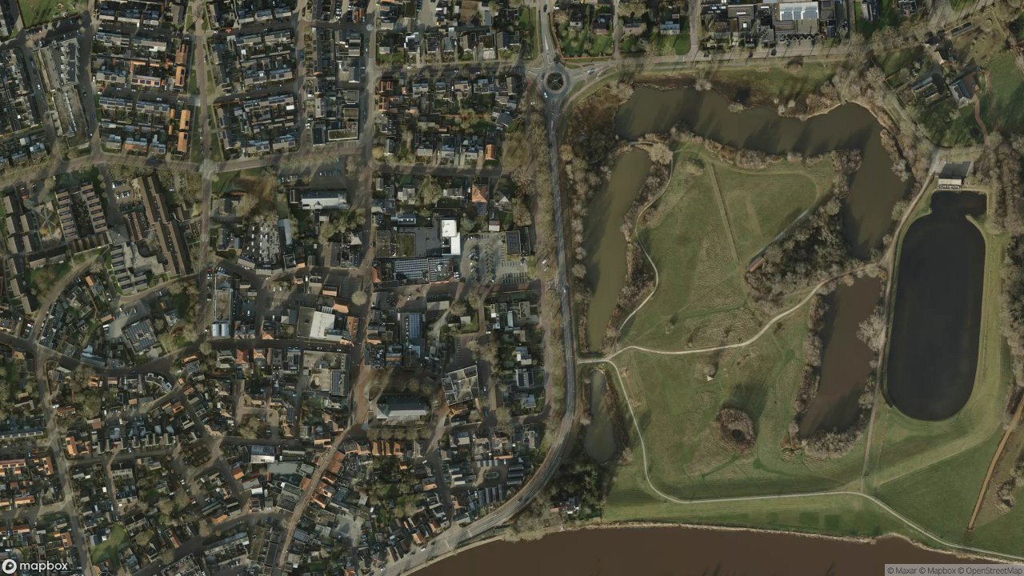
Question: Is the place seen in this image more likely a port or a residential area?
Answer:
residential area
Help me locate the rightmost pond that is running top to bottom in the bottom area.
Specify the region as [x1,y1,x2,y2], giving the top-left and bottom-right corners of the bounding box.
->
[801,277,882,437]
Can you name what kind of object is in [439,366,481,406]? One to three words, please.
building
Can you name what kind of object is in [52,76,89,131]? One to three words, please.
building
